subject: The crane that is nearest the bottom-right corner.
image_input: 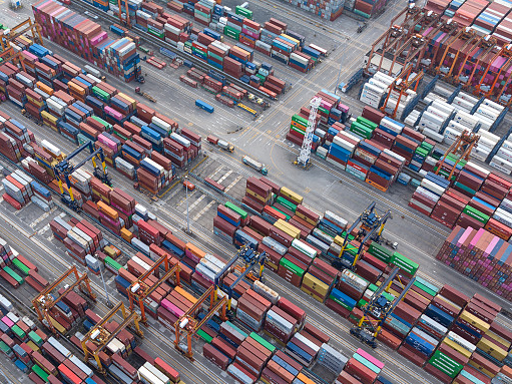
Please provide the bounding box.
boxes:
[349,268,417,348]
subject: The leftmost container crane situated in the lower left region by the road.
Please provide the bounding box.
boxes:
[30,264,99,337]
